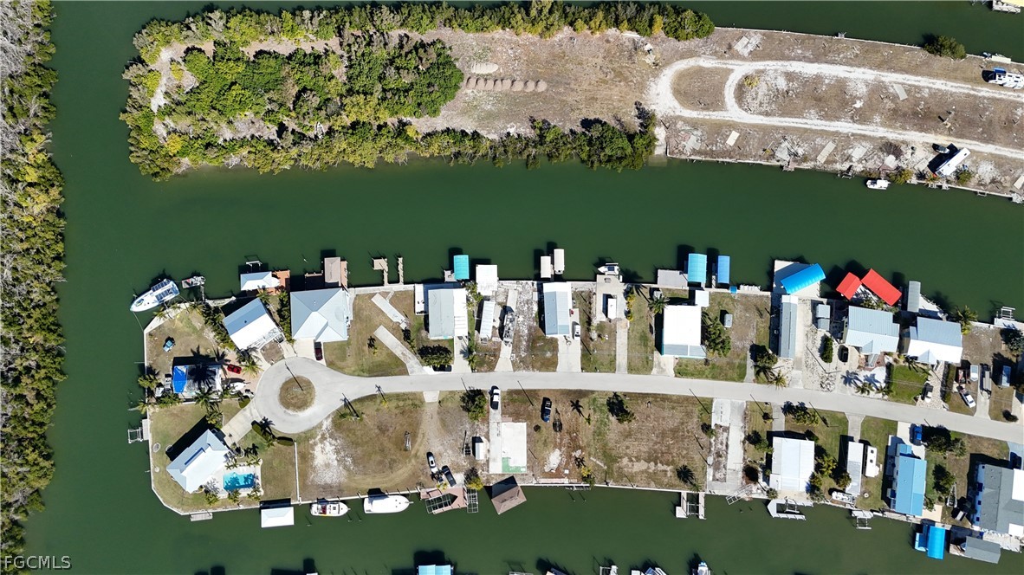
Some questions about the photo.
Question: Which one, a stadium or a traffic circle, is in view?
traffic circle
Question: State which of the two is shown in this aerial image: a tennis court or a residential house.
residential house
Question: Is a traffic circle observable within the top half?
No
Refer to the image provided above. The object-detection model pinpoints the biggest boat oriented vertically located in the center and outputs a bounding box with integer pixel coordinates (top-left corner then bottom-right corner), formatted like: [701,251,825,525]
[504,311,516,343]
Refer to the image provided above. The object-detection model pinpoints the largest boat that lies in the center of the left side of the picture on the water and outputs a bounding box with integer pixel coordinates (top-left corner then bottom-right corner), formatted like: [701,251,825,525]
[129,281,182,312]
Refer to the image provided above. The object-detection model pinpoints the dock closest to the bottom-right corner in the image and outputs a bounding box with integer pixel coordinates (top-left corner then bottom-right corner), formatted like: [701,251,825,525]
[982,535,1022,553]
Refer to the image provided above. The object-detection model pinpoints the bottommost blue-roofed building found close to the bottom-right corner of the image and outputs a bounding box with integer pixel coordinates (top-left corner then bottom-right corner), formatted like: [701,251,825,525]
[920,525,945,560]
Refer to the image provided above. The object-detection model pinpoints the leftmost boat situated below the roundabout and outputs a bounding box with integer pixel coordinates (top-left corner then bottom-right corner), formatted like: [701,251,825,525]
[311,502,353,517]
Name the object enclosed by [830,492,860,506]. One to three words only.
boat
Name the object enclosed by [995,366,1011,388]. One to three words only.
vehicle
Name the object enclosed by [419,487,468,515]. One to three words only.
pier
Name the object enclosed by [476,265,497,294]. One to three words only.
building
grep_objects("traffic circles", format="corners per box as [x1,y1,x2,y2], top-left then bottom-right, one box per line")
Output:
[257,356,373,433]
